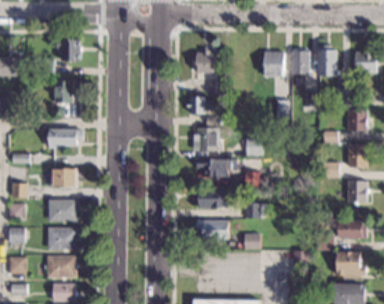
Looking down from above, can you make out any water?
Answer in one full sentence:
No, the scene doesn't show any water.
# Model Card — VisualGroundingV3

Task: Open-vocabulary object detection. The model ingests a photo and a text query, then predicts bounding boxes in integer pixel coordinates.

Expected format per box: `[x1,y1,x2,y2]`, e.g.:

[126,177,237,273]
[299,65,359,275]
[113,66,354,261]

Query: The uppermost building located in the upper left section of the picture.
[64,39,85,62]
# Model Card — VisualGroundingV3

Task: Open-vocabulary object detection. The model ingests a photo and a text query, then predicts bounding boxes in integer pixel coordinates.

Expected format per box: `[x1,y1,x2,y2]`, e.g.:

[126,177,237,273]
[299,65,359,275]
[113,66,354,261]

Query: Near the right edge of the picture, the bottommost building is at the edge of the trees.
[334,284,368,304]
